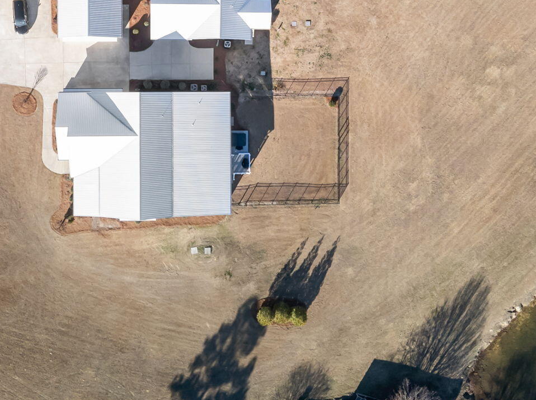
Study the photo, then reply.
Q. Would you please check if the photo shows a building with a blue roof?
No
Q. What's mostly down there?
grass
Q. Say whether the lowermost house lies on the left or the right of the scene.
left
